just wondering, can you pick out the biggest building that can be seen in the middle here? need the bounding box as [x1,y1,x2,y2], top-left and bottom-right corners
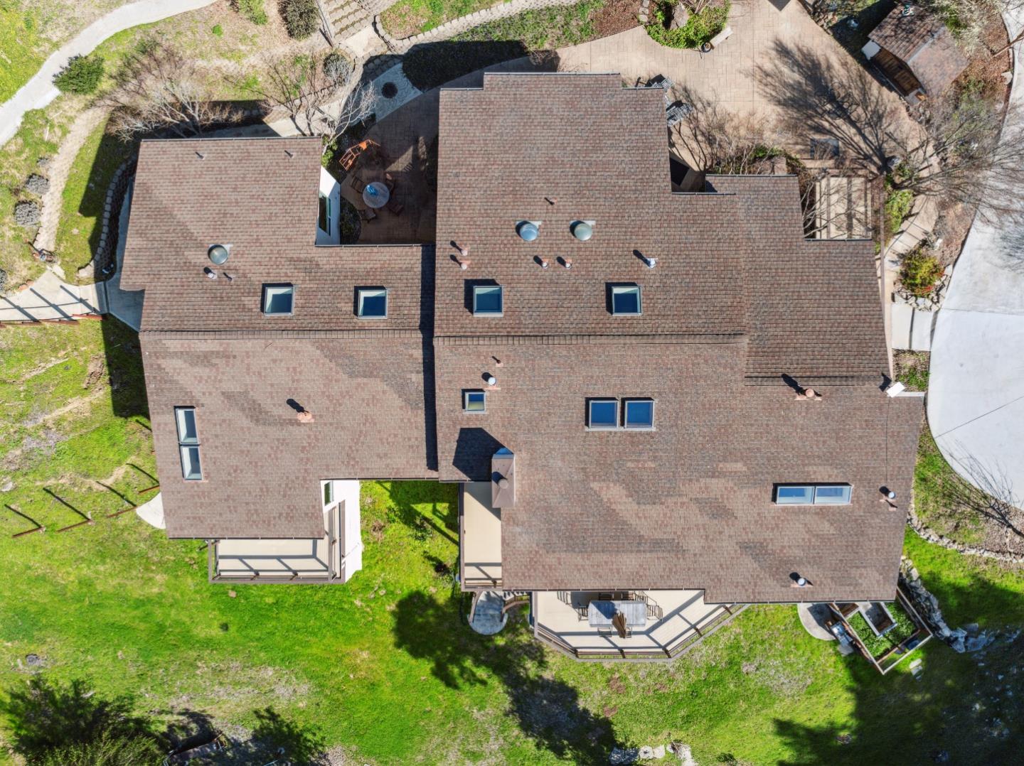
[119,69,927,607]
